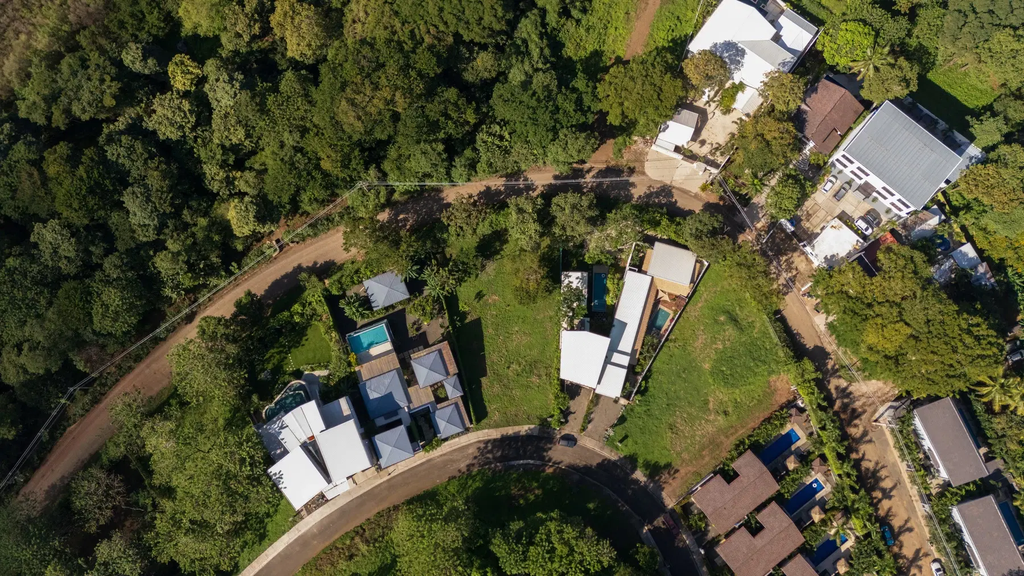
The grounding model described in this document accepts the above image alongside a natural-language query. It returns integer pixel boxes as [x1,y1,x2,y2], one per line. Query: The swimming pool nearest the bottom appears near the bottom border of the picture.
[805,527,856,572]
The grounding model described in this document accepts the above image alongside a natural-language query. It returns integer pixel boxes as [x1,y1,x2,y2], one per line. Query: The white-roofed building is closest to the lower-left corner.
[258,395,377,510]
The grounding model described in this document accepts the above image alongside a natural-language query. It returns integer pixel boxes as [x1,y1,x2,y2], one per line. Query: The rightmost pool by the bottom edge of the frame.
[997,499,1024,549]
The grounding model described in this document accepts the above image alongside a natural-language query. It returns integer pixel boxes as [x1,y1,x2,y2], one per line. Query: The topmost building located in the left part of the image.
[363,270,409,310]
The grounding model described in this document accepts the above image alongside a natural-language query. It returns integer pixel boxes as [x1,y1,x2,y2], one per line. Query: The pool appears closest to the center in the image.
[592,265,609,311]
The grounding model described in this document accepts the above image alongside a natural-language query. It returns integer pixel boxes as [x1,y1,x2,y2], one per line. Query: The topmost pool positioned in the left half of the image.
[348,319,397,365]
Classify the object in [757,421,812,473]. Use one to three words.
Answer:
swimming pool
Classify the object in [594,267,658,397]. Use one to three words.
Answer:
house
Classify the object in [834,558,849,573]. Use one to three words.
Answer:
umbrella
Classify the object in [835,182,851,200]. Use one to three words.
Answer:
car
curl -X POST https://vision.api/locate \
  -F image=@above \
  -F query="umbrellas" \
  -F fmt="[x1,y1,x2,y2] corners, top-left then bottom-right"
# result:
[834,558,849,573]
[810,506,824,521]
[785,454,799,469]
